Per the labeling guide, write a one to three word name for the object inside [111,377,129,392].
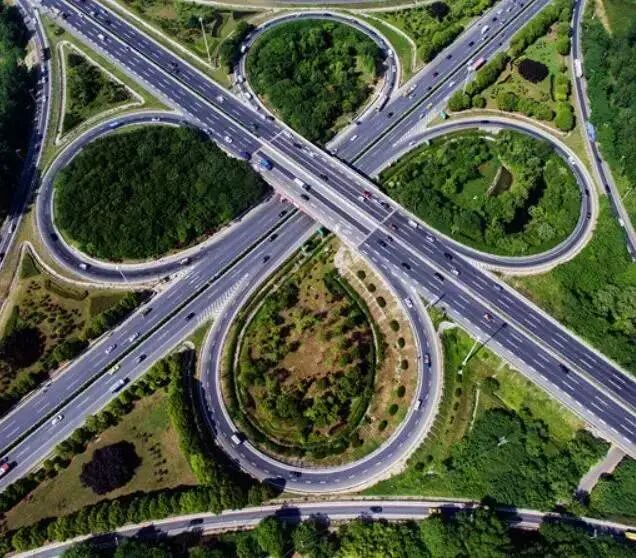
vehicle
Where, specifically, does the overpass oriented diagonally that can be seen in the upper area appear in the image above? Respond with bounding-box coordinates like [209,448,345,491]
[242,126,401,249]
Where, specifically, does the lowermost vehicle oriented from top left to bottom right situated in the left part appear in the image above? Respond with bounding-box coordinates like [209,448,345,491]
[228,432,243,449]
